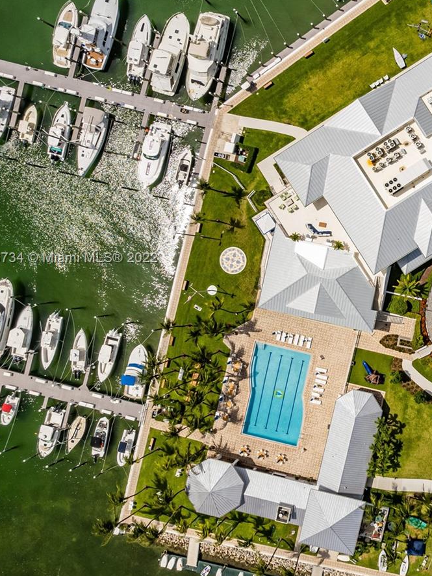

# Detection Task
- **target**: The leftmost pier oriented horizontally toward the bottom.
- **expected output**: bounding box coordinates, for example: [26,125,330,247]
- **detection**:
[0,366,147,422]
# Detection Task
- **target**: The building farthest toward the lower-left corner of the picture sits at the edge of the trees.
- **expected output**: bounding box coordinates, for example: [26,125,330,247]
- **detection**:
[185,458,240,519]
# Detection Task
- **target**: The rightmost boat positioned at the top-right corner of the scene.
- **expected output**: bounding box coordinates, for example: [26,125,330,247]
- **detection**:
[392,47,406,68]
